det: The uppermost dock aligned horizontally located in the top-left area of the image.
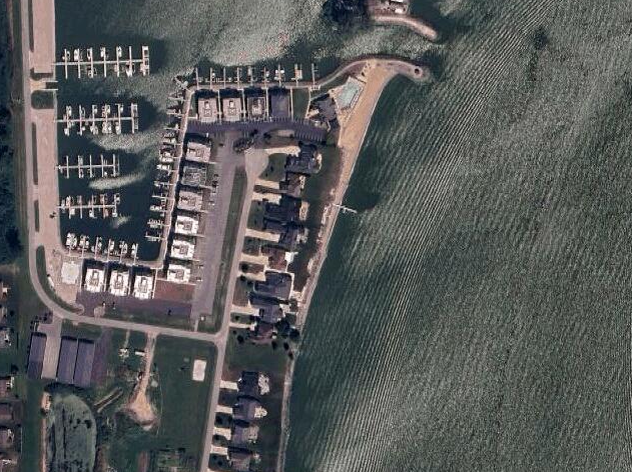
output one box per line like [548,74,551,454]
[57,47,150,78]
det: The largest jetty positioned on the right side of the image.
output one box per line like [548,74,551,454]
[373,16,437,37]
